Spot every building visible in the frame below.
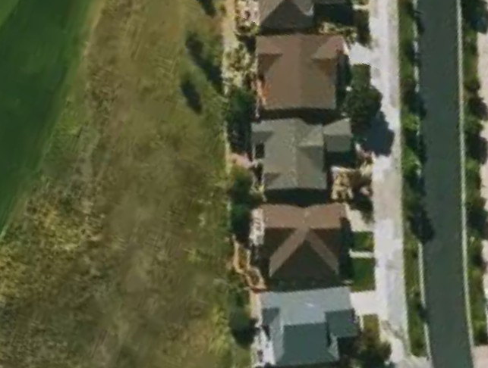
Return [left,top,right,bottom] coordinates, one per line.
[257,34,346,110]
[253,0,348,28]
[259,205,347,282]
[252,118,353,192]
[262,290,357,368]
